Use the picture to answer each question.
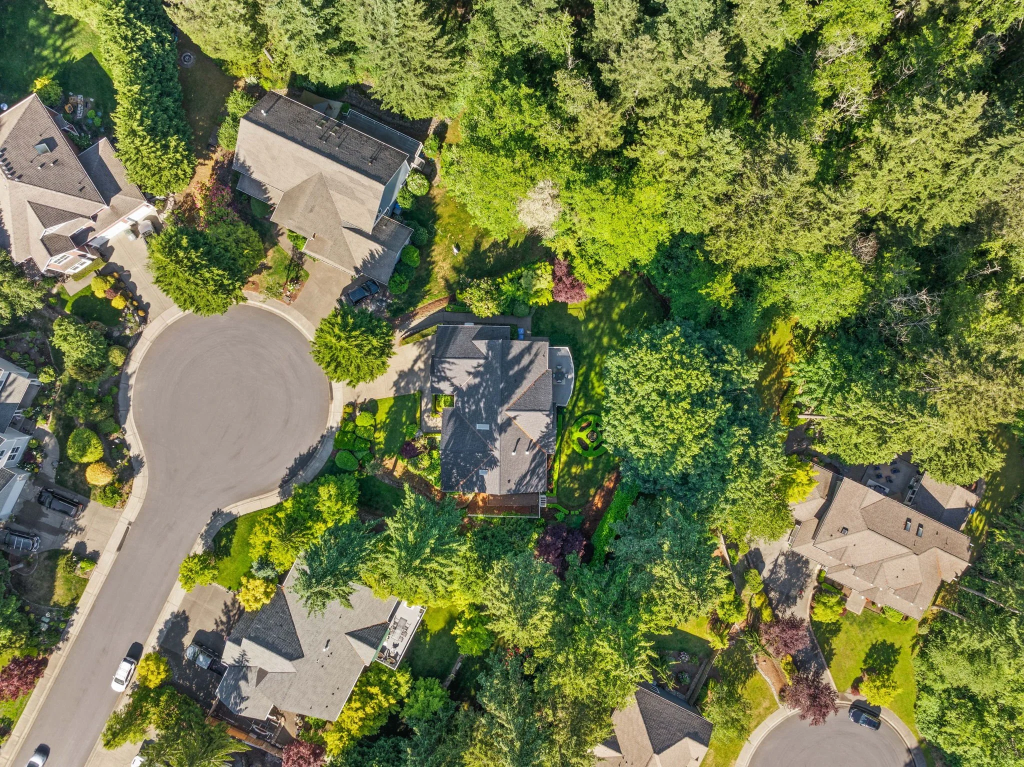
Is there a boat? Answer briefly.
No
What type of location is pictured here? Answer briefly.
residential area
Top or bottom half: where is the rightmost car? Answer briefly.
bottom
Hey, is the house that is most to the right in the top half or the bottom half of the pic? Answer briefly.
bottom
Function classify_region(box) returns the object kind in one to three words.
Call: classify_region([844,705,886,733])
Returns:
car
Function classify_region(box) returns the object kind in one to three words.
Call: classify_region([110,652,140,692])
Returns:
car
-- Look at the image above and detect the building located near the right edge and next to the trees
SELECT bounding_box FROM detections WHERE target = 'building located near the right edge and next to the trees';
[776,458,979,621]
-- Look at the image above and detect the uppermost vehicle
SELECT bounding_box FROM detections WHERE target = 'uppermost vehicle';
[137,224,166,264]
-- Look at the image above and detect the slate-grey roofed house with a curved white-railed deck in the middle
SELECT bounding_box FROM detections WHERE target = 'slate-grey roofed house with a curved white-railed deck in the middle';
[430,322,557,495]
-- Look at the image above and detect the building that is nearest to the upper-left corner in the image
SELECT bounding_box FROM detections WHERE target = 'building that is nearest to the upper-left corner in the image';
[0,93,151,274]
